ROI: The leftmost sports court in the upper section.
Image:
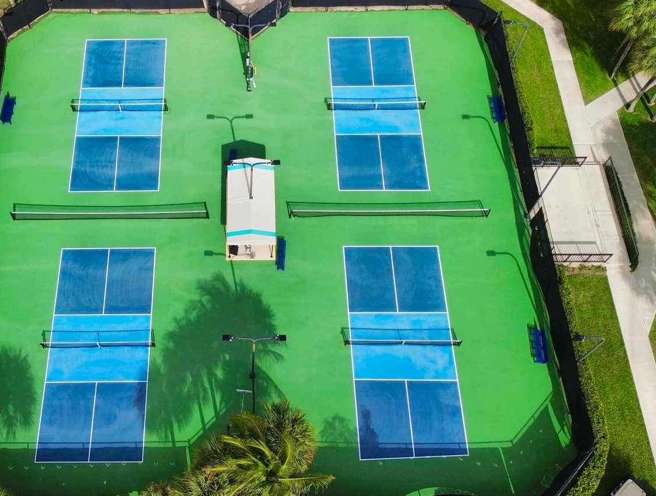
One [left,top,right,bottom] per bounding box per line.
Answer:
[69,38,167,191]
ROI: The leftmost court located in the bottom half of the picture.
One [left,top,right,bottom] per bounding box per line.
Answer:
[36,248,155,461]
